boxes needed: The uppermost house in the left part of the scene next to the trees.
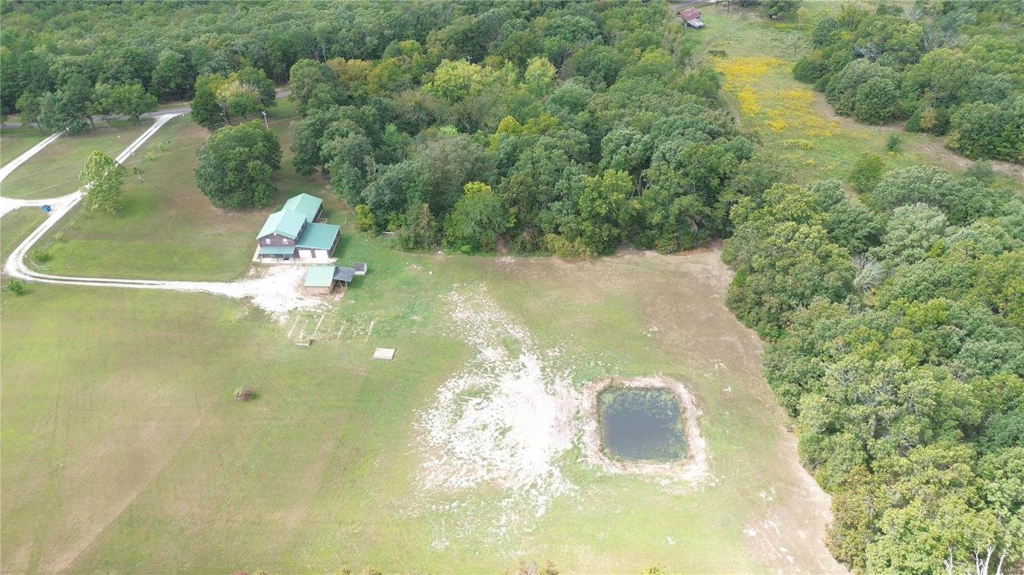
[251,192,340,264]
